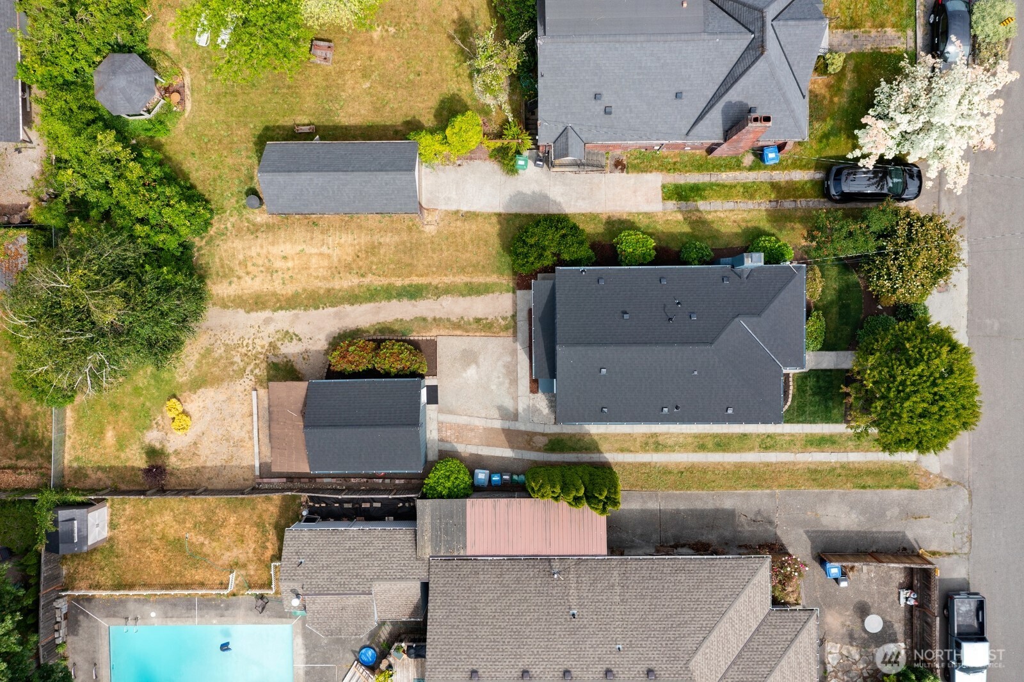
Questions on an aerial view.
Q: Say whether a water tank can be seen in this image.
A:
No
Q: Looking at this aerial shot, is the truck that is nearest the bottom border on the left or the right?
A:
right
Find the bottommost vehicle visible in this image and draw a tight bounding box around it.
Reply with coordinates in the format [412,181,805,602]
[941,589,994,682]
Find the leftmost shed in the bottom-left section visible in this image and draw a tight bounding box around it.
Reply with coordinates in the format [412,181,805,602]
[47,501,113,554]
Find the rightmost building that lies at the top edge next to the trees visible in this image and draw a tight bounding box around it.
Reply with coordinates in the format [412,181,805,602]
[521,0,839,175]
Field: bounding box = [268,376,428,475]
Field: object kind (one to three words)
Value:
building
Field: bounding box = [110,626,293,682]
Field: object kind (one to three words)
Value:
swimming pool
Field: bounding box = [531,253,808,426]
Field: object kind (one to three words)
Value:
house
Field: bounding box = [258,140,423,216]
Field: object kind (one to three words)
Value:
building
